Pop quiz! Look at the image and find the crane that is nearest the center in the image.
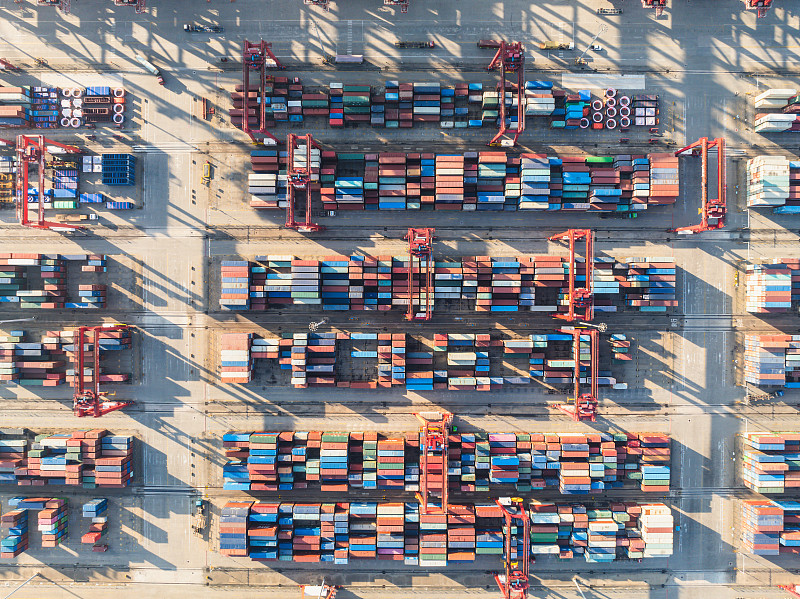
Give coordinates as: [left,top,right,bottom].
[401,225,436,323]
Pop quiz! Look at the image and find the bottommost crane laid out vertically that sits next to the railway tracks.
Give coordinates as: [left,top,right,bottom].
[489,496,530,599]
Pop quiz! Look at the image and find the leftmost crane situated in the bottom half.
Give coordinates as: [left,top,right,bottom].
[76,326,138,421]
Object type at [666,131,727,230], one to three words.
crane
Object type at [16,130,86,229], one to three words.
crane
